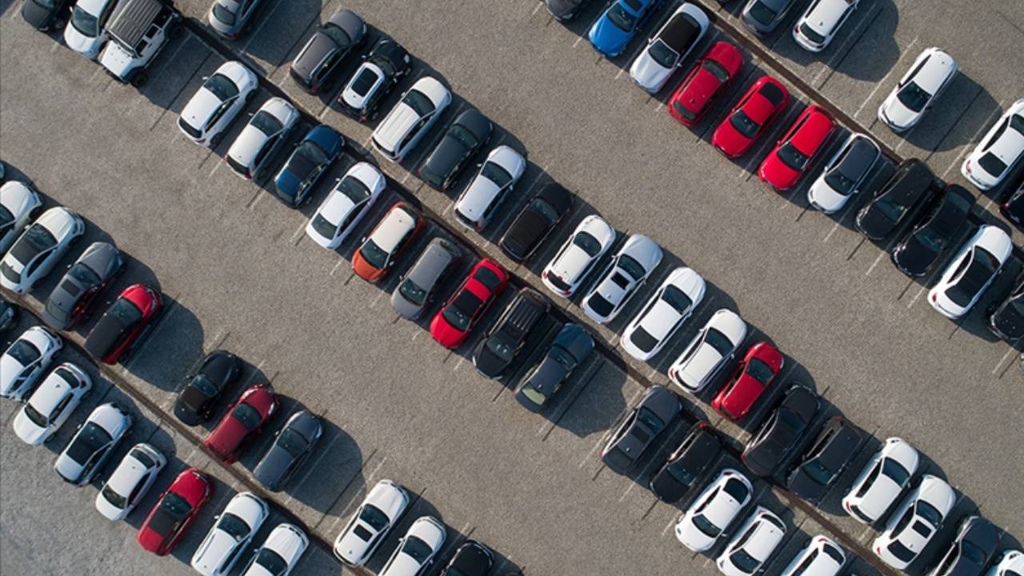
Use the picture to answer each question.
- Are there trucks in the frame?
No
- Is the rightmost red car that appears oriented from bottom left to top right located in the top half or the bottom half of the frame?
top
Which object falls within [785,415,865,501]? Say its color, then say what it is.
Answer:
black car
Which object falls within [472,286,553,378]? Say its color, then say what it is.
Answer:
black car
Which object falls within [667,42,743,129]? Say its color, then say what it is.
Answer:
red car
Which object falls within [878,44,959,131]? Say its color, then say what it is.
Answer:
white car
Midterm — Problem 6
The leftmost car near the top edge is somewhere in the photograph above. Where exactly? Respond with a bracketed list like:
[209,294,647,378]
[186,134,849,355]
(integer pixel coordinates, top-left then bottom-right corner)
[28,0,80,37]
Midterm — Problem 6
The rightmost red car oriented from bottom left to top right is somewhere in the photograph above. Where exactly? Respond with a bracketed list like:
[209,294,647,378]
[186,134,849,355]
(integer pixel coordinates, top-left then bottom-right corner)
[758,104,839,192]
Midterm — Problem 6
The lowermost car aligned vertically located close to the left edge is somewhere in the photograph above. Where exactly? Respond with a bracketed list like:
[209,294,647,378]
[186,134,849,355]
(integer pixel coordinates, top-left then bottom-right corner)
[0,301,25,358]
